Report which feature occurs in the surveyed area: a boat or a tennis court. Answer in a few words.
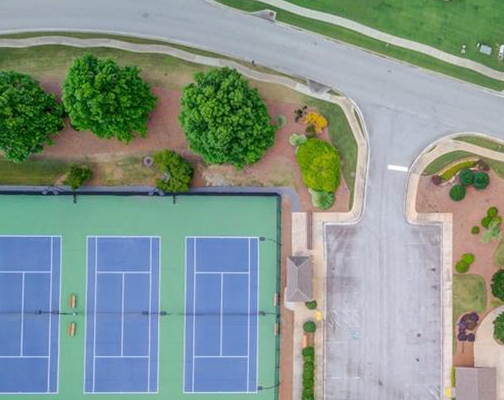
tennis court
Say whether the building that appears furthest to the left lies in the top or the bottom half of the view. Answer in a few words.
bottom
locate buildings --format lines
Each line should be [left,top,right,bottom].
[286,256,314,301]
[455,367,496,400]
